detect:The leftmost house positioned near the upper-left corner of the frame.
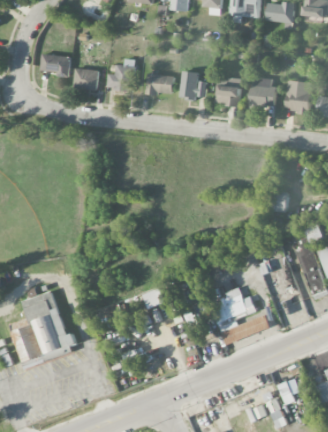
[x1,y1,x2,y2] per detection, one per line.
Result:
[44,54,71,76]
